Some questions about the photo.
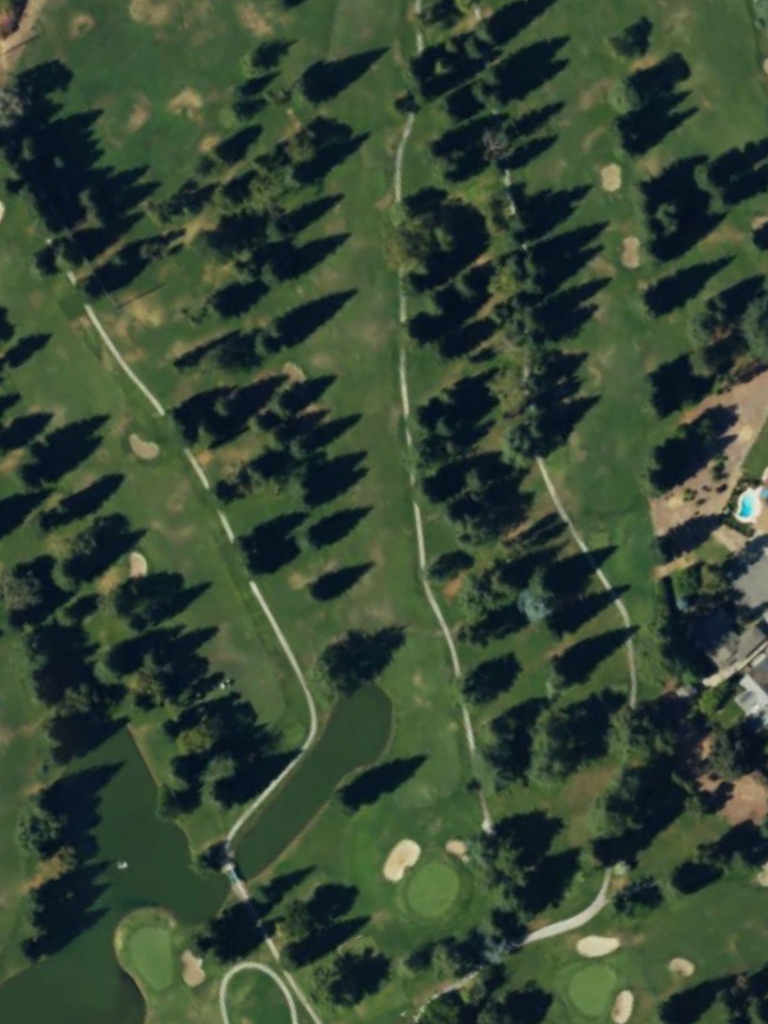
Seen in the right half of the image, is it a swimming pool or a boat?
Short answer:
swimming pool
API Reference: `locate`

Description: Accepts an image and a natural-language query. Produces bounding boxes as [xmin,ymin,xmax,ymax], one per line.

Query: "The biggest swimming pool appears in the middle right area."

[734,486,763,523]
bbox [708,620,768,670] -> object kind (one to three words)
house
